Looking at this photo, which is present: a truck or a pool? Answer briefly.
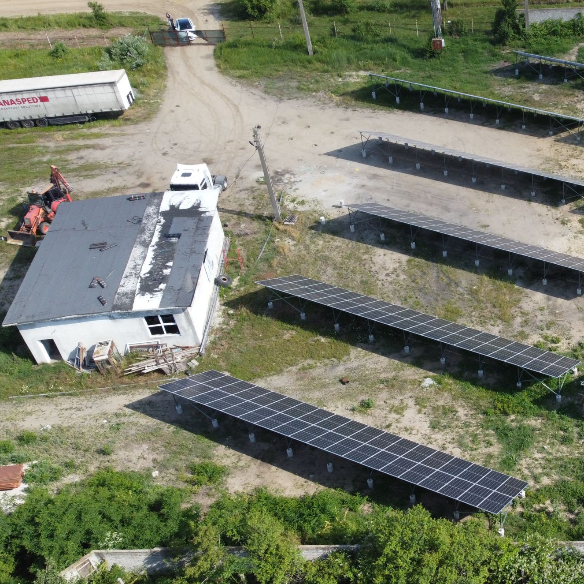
truck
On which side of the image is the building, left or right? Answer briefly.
left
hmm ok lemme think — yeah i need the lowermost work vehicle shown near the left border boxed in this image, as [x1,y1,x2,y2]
[6,161,84,247]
